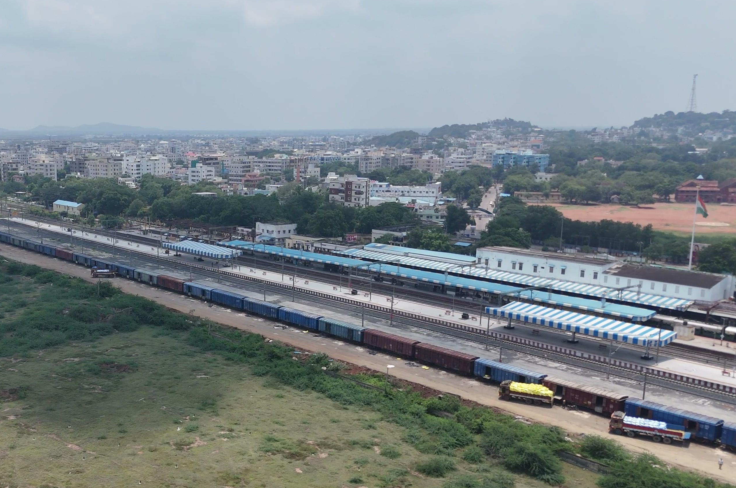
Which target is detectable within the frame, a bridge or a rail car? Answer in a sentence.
Of the two, only a rail car appears.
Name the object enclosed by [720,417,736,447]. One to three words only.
rail car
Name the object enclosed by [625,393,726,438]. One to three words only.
rail car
